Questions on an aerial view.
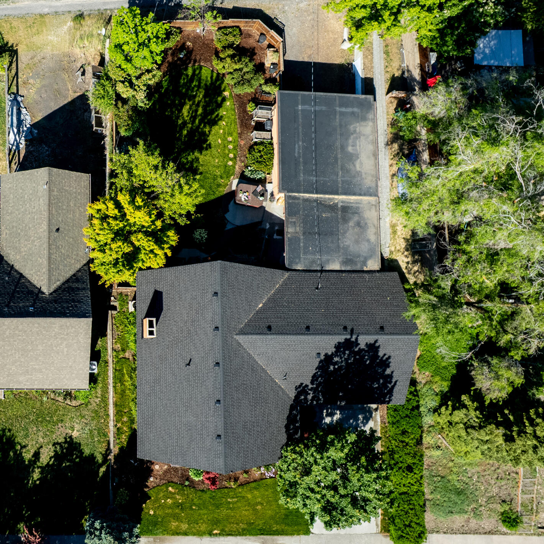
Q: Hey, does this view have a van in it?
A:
No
